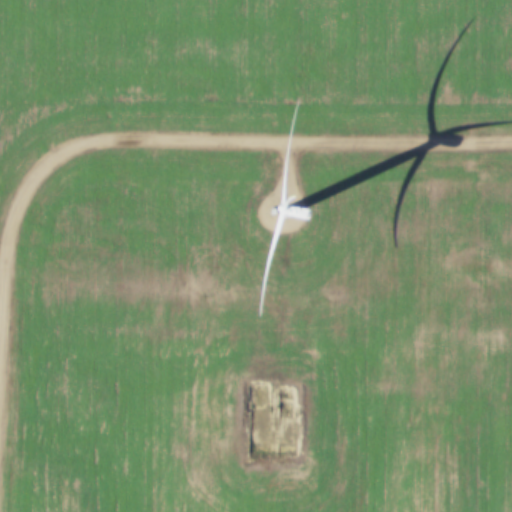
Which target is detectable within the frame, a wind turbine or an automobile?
wind turbine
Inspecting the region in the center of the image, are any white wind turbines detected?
Yes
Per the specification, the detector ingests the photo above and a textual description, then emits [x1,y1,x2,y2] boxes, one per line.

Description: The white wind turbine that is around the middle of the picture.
[260,99,312,315]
